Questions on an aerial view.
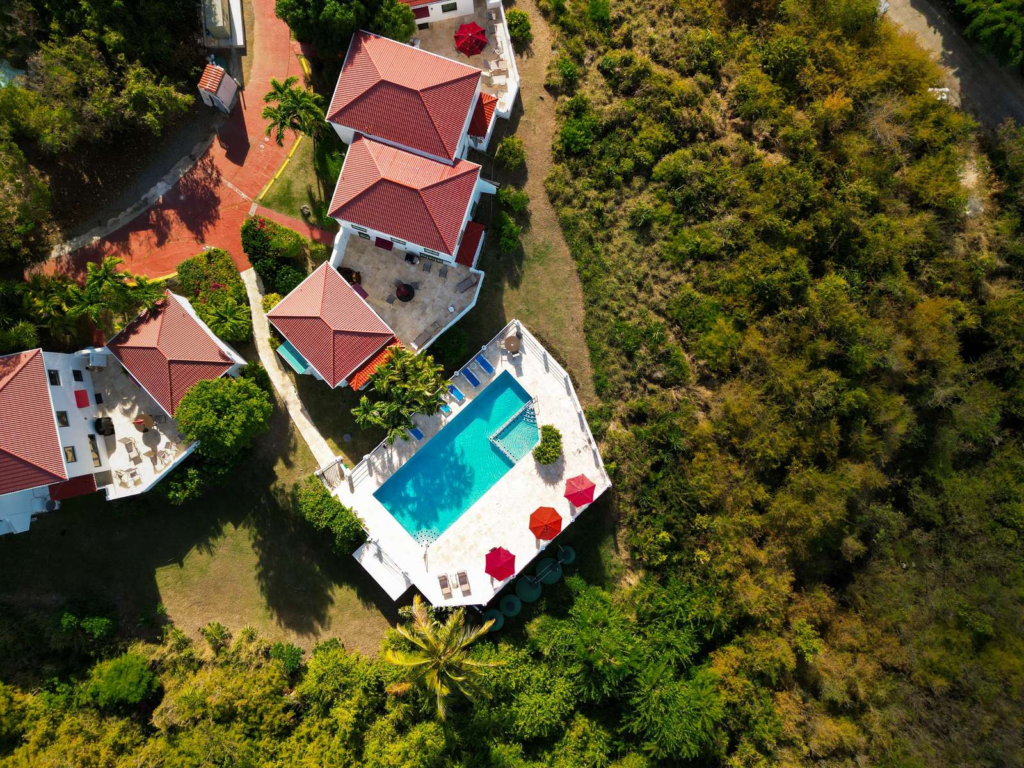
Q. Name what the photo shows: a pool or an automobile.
pool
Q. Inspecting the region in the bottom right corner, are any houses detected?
No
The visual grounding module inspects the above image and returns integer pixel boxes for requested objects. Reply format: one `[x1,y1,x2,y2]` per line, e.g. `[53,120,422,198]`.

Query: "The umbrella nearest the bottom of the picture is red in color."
[485,546,515,581]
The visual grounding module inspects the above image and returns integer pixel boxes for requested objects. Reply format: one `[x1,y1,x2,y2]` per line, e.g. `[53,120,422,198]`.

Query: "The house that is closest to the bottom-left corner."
[0,347,112,534]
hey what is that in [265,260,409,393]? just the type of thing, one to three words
building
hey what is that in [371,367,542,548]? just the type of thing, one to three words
swimming pool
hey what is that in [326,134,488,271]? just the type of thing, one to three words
house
